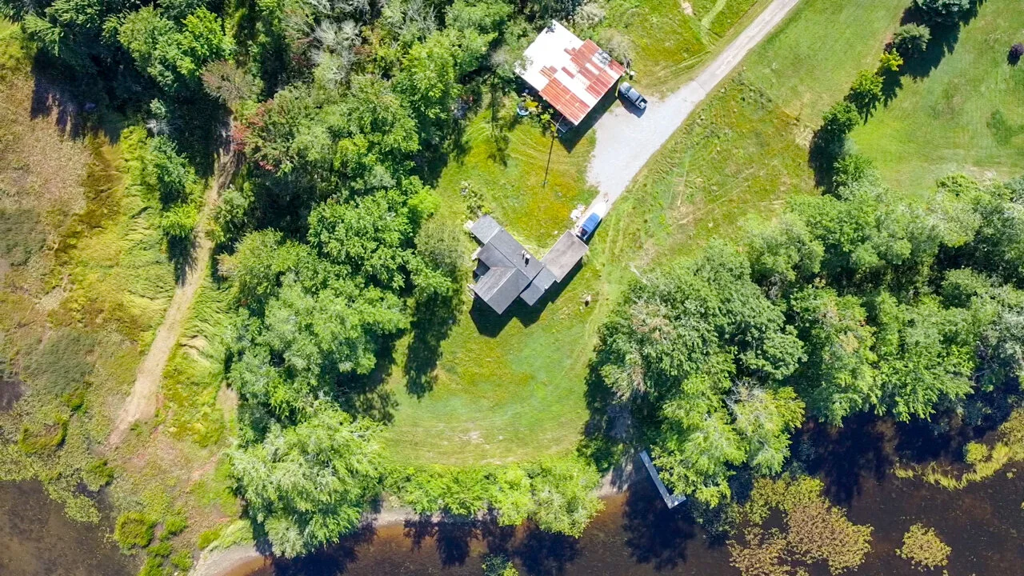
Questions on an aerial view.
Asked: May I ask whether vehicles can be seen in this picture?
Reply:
Yes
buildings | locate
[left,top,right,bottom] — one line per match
[463,213,589,314]
[516,20,626,128]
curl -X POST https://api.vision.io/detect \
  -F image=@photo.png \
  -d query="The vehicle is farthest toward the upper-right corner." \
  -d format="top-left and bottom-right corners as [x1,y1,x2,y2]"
[618,81,649,113]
